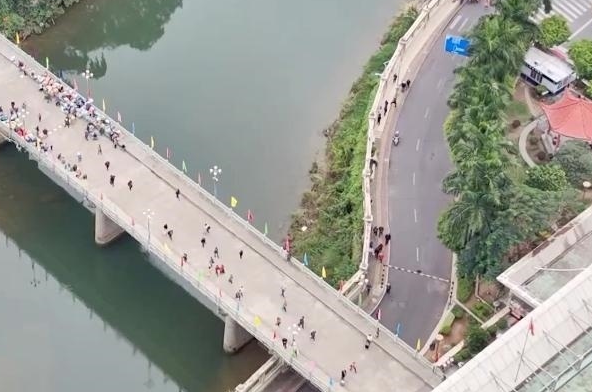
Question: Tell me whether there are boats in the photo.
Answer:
No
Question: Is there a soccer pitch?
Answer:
No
